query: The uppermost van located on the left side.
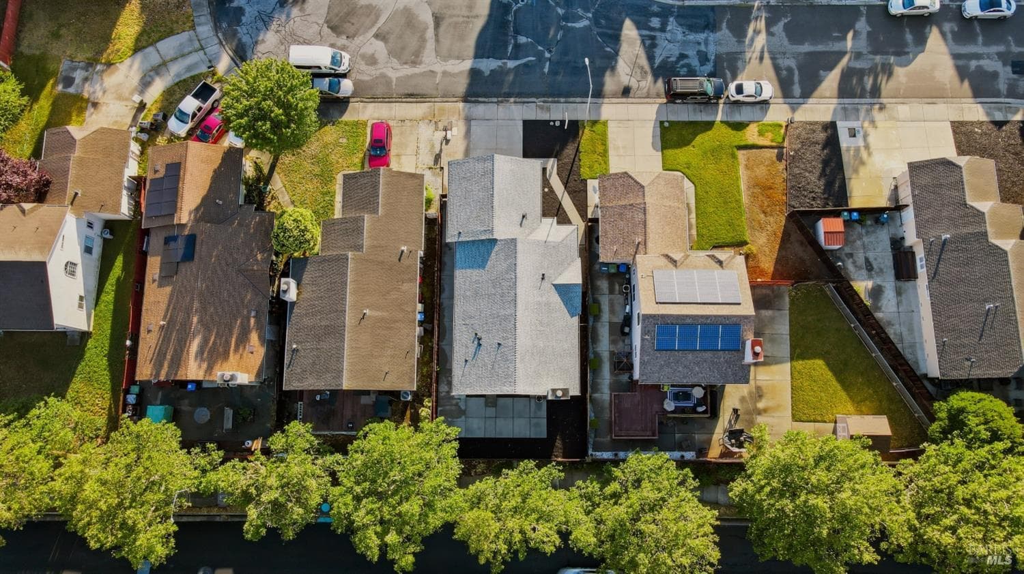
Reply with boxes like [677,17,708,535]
[286,43,349,73]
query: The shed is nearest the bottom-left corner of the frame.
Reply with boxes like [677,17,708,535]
[140,403,173,427]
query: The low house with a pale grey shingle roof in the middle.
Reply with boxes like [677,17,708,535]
[446,154,582,400]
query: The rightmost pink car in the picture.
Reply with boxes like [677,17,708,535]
[368,123,390,165]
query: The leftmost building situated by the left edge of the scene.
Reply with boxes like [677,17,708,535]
[0,126,141,343]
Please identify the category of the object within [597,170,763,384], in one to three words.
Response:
house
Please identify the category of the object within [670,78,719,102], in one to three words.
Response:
car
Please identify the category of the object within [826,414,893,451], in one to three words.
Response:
shed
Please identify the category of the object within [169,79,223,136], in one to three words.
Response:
truck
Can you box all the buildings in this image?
[597,170,763,384]
[446,154,582,400]
[826,414,893,451]
[135,141,279,383]
[140,403,173,427]
[817,218,847,247]
[280,168,426,391]
[0,126,141,343]
[895,155,1024,379]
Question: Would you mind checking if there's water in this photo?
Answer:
No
